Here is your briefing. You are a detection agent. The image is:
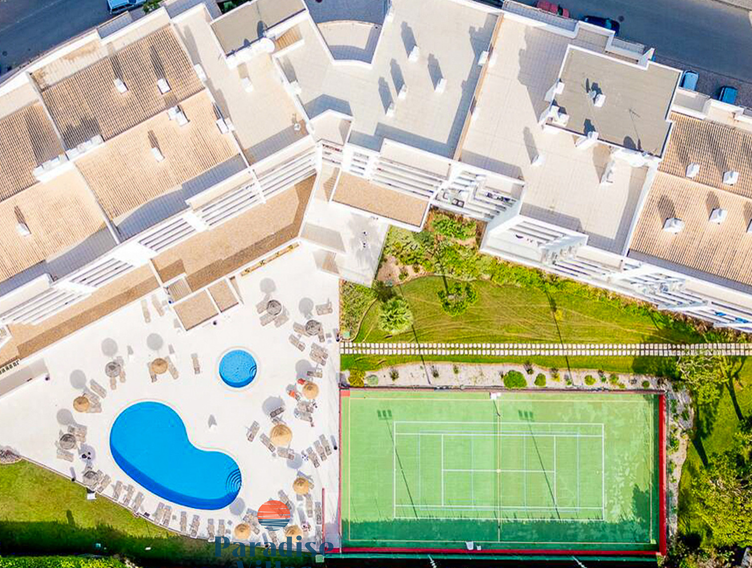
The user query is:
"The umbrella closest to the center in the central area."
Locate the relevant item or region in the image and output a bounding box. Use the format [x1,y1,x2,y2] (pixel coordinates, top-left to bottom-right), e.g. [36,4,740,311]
[305,320,321,337]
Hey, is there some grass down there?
Yes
